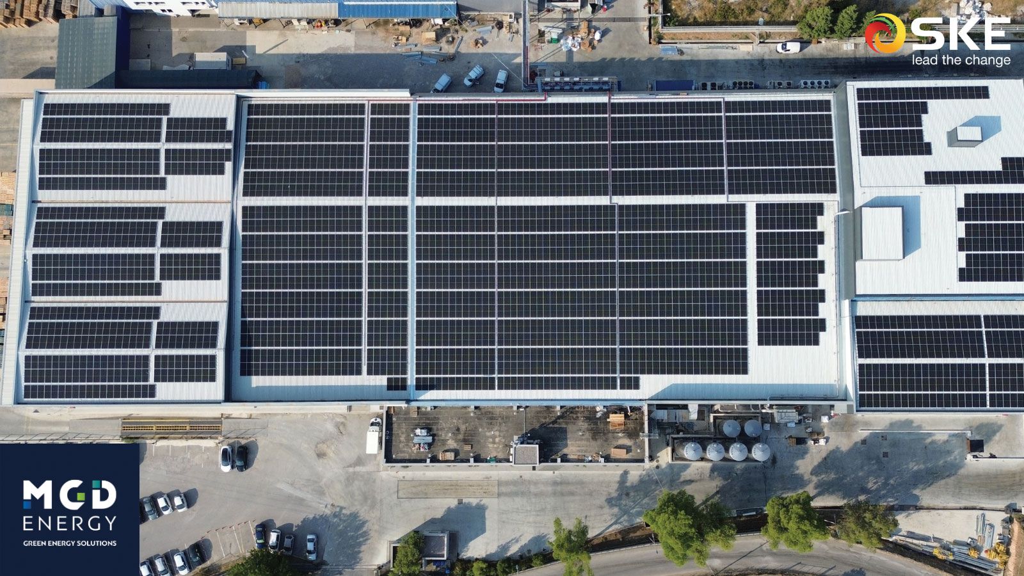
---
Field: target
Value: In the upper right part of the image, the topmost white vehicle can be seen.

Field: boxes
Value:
[775,40,802,54]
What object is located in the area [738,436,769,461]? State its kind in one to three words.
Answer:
silo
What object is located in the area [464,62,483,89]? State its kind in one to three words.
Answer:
vehicle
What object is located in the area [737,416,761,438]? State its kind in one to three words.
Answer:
silo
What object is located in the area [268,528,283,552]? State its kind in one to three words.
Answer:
car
